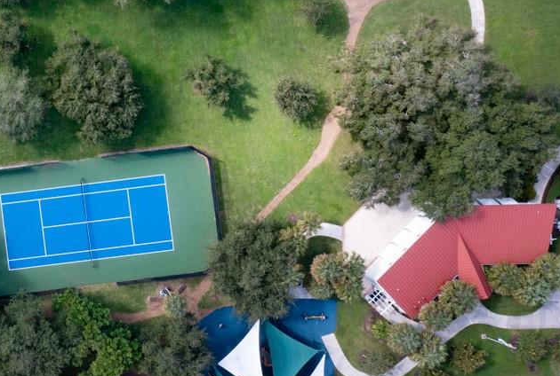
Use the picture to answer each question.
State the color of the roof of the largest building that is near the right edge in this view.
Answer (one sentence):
The roof of the largest building that is near the right edge is red.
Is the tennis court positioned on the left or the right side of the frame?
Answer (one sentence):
The tennis court sits on the left side.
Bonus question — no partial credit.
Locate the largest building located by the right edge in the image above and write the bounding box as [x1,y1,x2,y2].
[364,196,557,319]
